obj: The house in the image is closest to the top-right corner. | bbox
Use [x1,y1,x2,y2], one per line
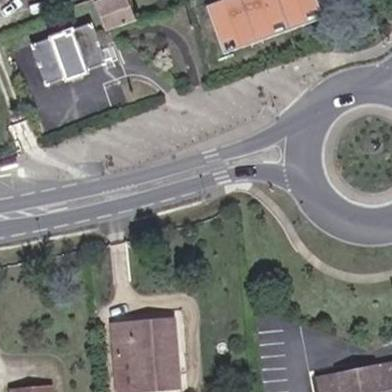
[206,0,322,54]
